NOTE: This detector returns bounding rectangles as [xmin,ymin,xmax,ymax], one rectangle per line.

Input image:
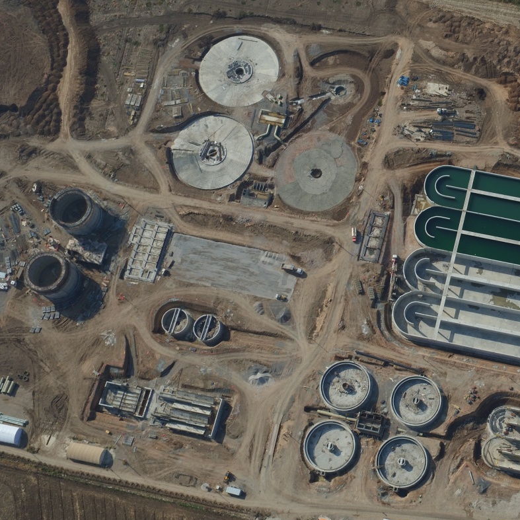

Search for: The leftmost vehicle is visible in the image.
[7,268,27,285]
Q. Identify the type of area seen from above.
industrial area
